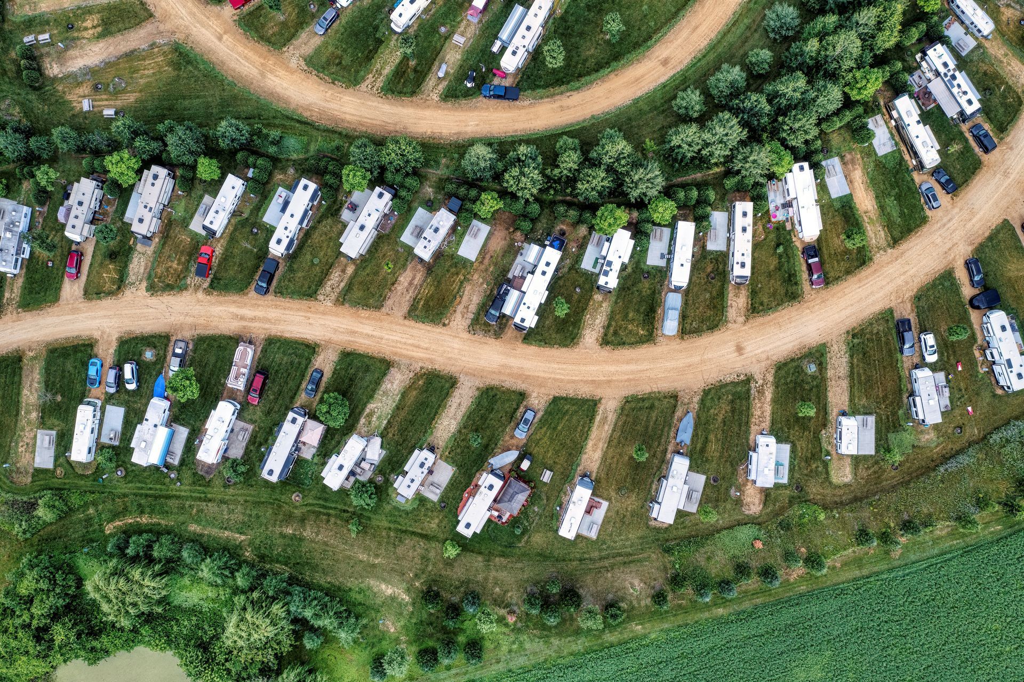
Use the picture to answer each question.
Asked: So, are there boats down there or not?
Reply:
Yes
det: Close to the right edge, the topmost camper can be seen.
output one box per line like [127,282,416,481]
[943,0,994,46]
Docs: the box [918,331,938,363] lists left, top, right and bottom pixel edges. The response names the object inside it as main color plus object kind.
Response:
white car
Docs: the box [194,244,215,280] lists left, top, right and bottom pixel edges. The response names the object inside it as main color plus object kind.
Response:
red truck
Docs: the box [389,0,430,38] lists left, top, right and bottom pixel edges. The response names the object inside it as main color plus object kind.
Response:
white camper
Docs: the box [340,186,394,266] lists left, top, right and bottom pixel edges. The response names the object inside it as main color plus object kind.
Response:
white vehicle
